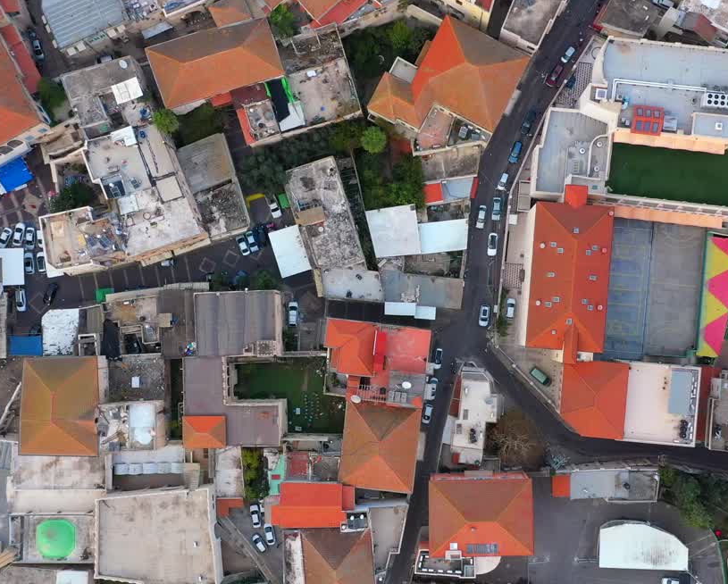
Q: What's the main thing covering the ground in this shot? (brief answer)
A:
buildings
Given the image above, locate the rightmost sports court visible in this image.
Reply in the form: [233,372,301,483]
[644,221,712,361]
